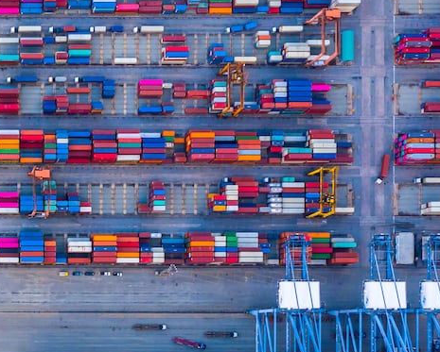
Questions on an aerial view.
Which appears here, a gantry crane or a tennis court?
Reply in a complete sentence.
Of the two, only a gantry crane appears.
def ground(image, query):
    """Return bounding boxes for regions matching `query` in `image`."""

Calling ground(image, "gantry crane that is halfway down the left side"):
[26,165,53,217]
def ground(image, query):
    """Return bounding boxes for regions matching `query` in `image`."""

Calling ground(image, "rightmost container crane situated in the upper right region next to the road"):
[303,9,338,69]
